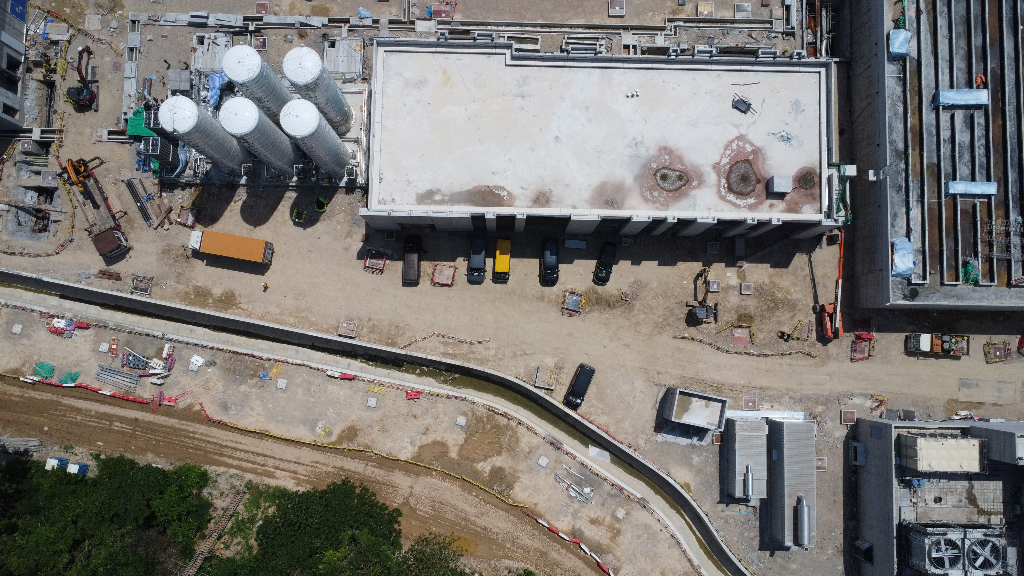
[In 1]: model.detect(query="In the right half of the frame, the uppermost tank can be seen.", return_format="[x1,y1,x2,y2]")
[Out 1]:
[665,387,729,431]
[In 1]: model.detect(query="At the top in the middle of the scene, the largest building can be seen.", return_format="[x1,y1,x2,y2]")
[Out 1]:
[359,26,868,238]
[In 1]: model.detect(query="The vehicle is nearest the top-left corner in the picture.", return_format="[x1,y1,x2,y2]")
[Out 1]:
[52,40,95,108]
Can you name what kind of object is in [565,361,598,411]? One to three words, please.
van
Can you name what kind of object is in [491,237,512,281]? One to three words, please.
vehicle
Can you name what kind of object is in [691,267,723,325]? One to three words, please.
work vehicle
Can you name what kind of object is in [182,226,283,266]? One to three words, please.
truck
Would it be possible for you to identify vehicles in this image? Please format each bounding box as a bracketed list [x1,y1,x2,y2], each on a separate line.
[51,161,127,258]
[593,239,619,287]
[465,237,487,284]
[52,40,95,108]
[691,267,723,325]
[491,237,512,281]
[905,331,973,355]
[539,237,561,285]
[399,237,426,284]
[182,226,283,266]
[565,361,598,411]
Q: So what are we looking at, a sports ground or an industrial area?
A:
industrial area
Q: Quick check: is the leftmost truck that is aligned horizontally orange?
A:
Yes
